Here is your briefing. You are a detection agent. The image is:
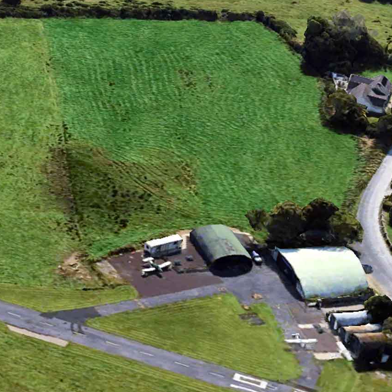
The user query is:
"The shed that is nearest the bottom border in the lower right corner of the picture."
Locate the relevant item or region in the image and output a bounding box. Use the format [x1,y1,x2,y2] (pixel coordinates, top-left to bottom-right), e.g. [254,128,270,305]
[346,332,392,359]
